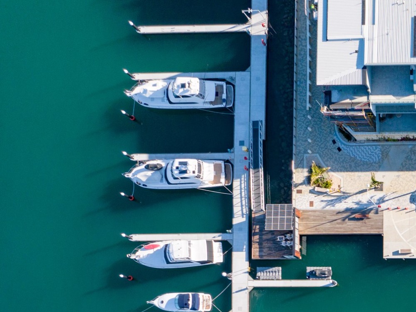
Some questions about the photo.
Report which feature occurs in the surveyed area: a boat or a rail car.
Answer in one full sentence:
Of the two, only a boat appears.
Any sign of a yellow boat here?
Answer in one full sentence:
No, the picture doesn't show any yellow boat.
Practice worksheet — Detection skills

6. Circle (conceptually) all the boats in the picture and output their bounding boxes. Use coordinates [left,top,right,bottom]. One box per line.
[127,239,228,267]
[124,77,235,114]
[313,269,335,277]
[142,283,231,312]
[123,159,233,202]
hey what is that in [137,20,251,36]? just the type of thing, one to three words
pier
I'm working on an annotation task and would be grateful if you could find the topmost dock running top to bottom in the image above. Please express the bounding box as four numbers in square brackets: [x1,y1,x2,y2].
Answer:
[250,0,268,140]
